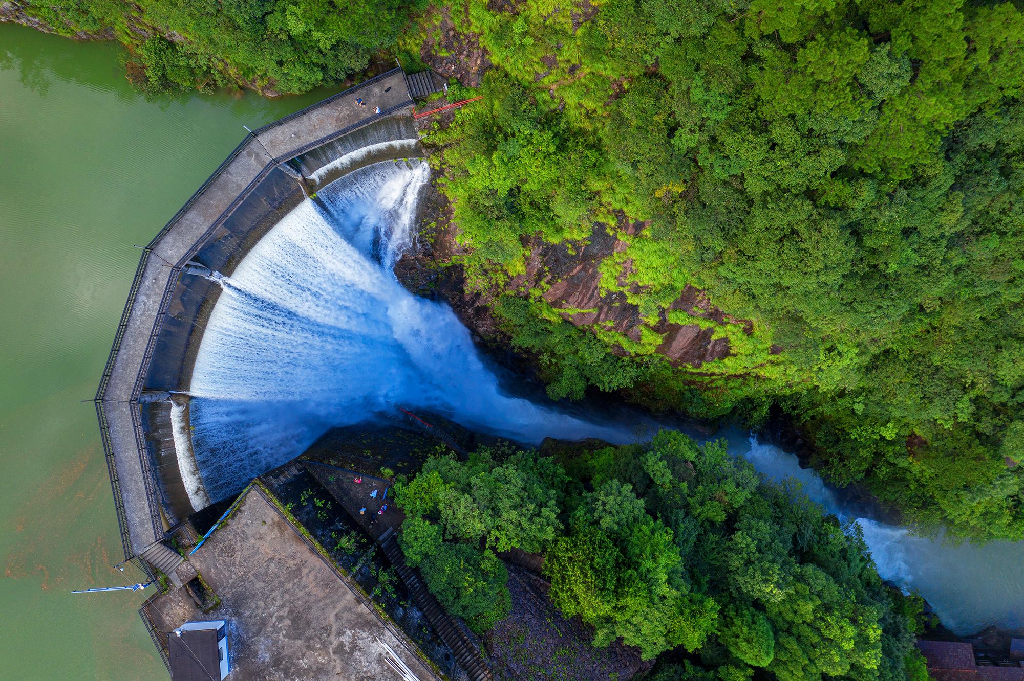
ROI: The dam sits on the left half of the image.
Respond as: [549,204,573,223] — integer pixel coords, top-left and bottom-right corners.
[142,94,462,541]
